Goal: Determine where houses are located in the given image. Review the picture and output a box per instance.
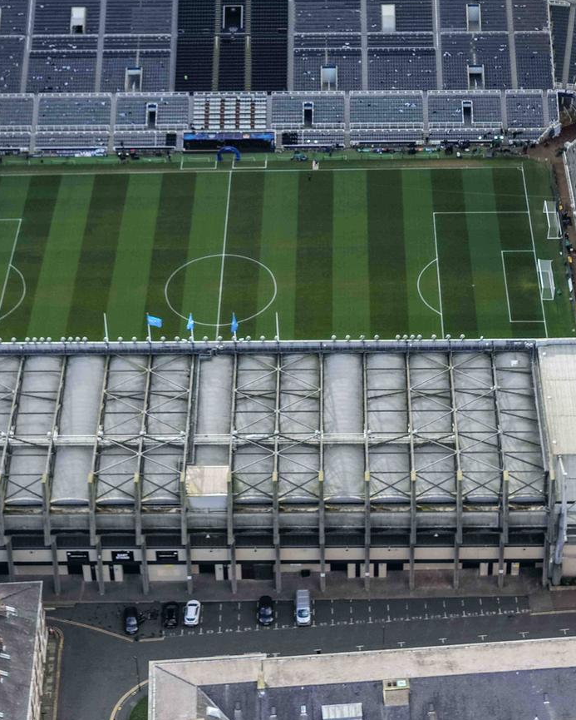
[147,634,576,720]
[0,579,54,720]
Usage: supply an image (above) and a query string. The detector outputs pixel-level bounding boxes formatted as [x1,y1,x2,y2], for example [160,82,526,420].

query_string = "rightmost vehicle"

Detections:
[294,586,311,623]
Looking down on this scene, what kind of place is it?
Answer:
sports ground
